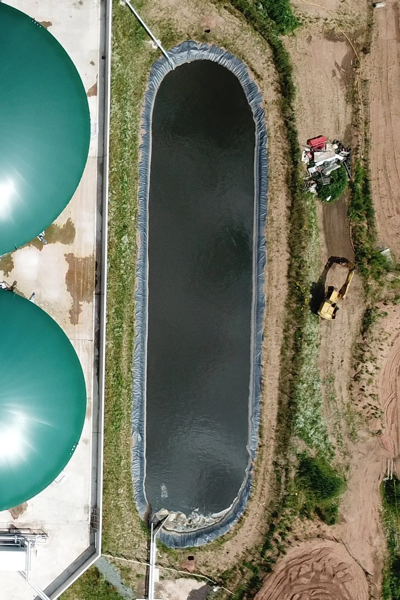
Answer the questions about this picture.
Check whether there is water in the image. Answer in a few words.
Yes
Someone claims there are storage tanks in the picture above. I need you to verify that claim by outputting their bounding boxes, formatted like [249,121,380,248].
[0,288,86,512]
[0,0,100,263]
